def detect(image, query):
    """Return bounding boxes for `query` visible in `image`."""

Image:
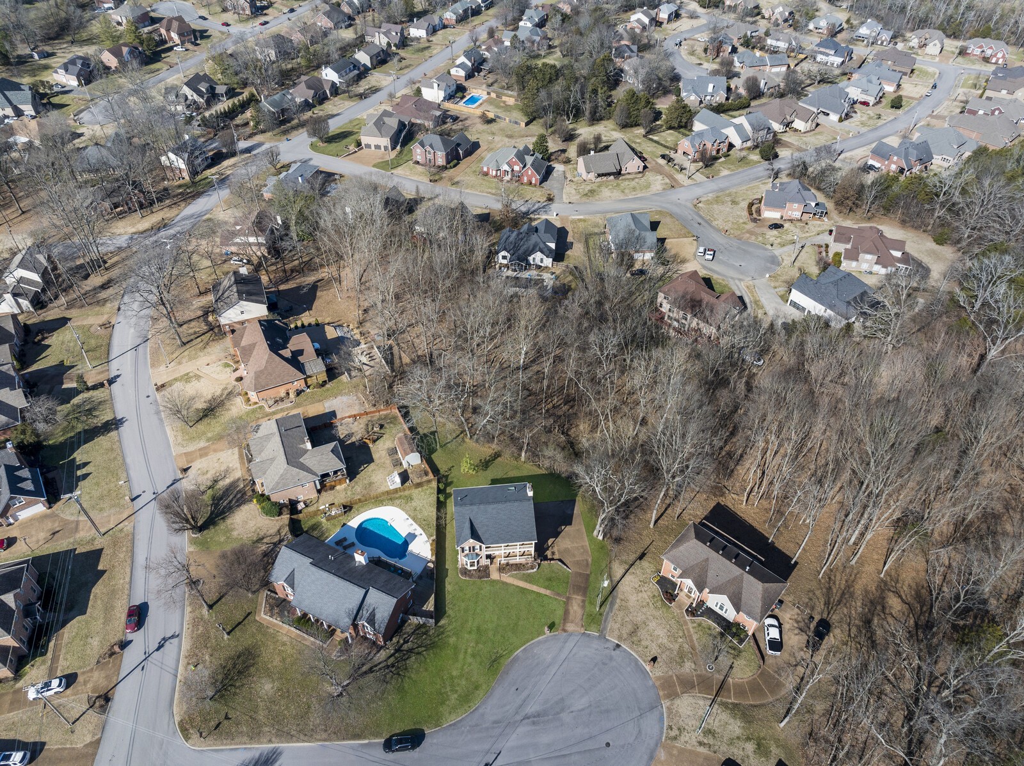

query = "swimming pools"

[461,92,489,105]
[325,506,432,577]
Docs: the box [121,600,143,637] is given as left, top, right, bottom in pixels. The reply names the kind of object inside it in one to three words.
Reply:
car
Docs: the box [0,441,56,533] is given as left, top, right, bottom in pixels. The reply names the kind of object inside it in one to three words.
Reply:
house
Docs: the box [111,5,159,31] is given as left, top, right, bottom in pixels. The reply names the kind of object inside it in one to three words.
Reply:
house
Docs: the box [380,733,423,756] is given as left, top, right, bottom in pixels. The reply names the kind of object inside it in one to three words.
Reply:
car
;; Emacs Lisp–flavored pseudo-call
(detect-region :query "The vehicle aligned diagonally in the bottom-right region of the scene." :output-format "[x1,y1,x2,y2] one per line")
[802,615,834,654]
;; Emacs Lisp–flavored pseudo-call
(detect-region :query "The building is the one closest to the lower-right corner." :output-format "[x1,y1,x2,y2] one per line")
[660,517,789,634]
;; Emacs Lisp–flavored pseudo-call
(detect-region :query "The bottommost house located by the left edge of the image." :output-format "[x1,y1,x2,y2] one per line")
[0,552,56,692]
